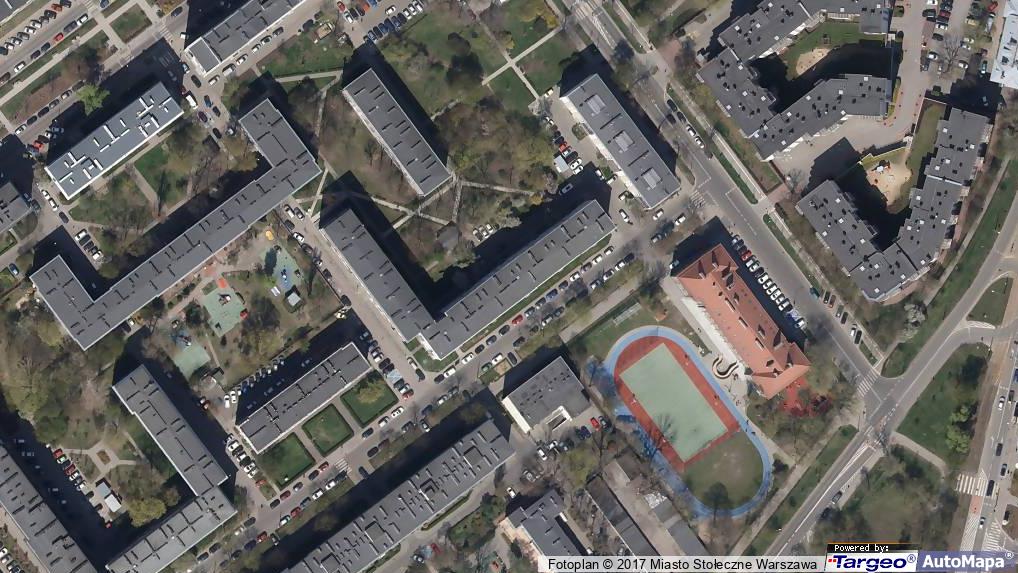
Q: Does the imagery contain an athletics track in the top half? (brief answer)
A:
No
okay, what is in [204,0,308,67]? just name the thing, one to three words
building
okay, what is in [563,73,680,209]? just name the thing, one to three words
building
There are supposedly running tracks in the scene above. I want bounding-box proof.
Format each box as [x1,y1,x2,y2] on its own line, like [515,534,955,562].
[603,324,775,521]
